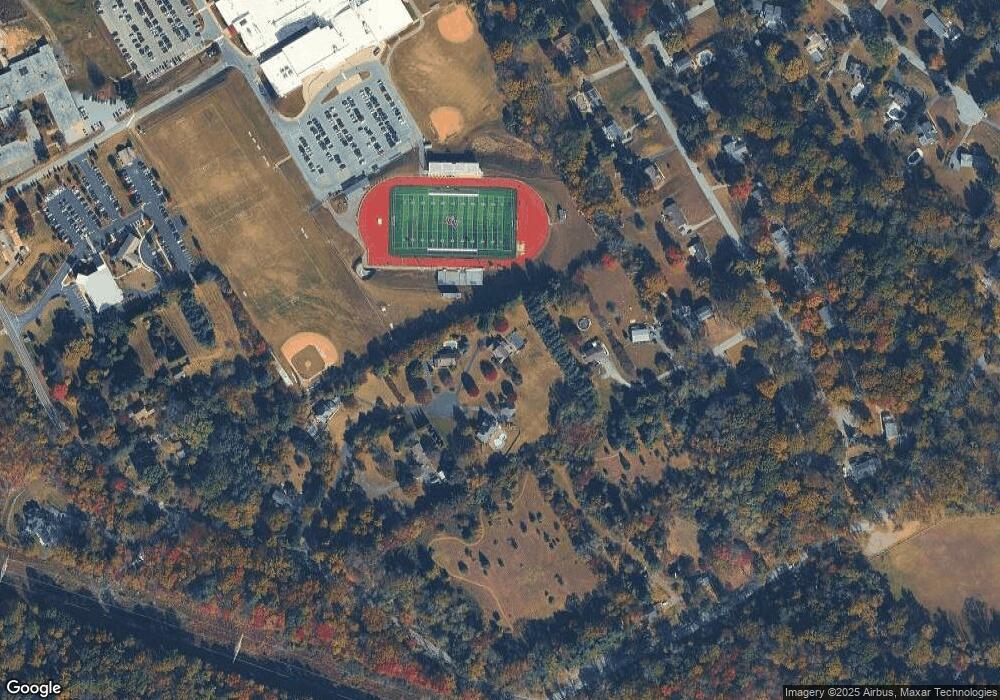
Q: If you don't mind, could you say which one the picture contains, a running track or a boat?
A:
running track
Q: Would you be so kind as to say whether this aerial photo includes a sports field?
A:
Yes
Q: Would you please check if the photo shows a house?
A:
Yes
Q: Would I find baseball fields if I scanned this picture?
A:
Yes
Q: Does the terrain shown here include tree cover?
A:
Yes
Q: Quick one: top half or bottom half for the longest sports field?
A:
top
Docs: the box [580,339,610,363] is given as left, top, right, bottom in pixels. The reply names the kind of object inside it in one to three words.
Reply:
house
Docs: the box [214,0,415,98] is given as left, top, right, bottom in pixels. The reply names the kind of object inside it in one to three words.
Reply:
building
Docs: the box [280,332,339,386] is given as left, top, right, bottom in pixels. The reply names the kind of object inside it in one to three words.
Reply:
baseball field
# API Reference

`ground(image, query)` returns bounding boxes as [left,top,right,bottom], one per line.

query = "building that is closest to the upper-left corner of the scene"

[0,42,89,181]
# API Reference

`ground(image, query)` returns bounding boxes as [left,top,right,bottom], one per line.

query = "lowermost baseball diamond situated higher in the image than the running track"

[430,106,463,147]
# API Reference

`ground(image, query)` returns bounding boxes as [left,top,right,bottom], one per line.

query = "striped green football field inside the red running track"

[391,185,518,260]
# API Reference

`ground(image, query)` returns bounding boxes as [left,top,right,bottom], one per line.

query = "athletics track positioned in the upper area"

[360,177,550,268]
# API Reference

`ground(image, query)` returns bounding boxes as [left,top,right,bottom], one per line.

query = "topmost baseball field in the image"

[438,1,473,42]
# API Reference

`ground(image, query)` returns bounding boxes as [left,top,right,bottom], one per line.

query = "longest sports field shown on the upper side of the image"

[134,72,396,391]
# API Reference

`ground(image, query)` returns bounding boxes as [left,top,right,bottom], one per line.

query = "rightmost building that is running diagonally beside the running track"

[341,175,370,199]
